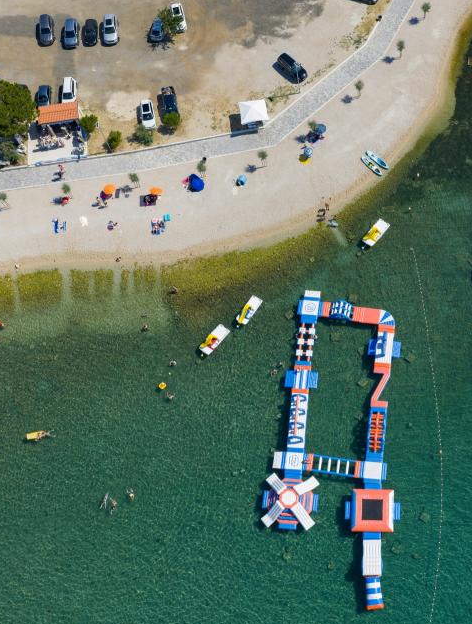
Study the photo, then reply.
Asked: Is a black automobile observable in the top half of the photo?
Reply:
Yes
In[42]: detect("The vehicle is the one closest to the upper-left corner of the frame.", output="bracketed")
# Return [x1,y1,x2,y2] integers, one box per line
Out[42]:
[37,16,55,45]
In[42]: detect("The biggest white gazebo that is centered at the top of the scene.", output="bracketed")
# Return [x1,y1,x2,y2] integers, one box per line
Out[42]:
[240,100,270,136]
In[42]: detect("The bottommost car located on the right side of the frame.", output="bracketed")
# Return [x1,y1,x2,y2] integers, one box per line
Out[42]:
[276,53,307,82]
